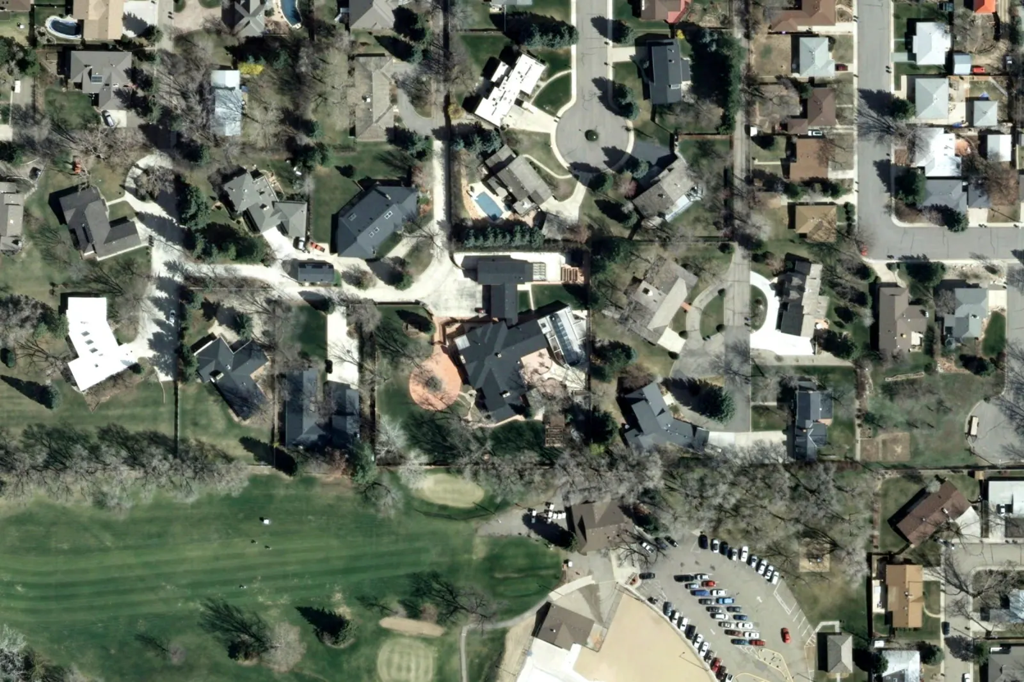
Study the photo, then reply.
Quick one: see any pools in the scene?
Yes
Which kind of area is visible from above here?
residential area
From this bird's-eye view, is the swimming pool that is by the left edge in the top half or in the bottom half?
top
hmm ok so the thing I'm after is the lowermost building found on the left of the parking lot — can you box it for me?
[536,602,596,655]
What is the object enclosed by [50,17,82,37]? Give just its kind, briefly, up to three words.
swimming pool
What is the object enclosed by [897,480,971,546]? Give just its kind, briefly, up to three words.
house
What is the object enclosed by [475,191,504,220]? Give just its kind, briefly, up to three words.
swimming pool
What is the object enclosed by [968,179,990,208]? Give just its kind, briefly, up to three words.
building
